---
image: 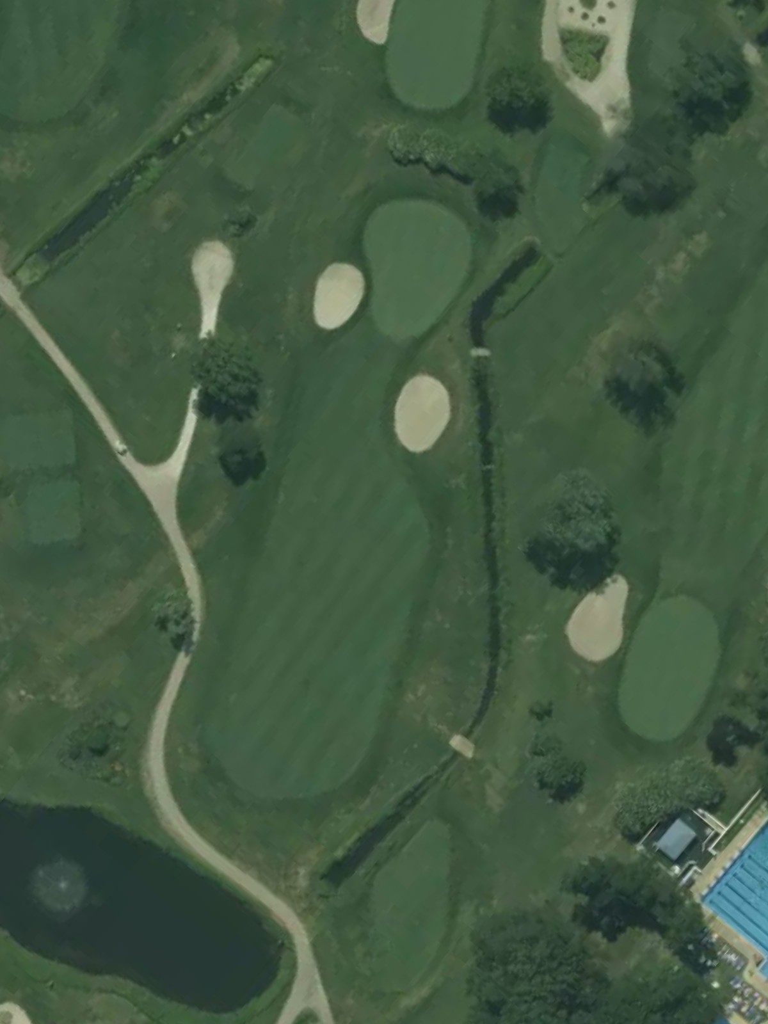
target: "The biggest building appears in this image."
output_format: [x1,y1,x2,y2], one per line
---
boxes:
[658,820,696,861]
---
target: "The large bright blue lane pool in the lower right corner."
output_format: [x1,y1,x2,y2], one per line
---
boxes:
[707,818,768,974]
